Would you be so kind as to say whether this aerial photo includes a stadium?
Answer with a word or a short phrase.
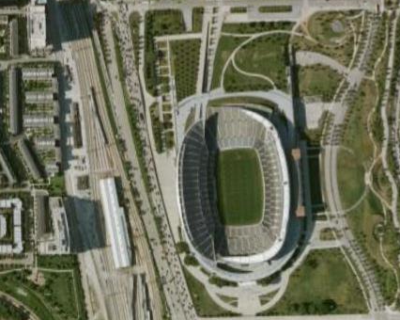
Yes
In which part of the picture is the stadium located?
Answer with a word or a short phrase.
center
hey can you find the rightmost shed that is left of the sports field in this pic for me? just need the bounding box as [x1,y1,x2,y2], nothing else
[100,179,133,267]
